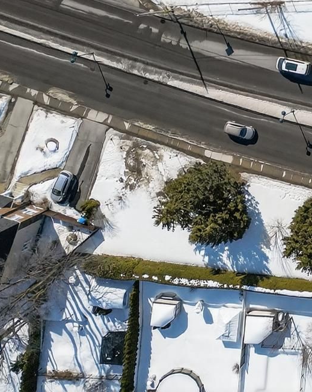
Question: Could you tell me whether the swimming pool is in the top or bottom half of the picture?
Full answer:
Seen from above, the swimming pool lies in the bottom half of the view.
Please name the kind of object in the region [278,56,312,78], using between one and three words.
car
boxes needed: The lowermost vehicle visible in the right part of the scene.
[225,122,256,140]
